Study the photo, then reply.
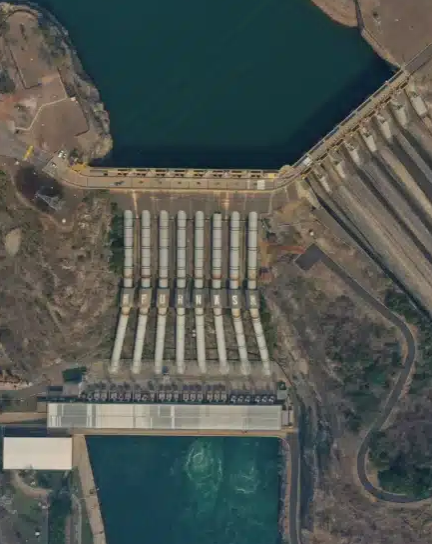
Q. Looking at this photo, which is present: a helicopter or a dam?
dam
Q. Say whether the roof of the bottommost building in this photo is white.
Yes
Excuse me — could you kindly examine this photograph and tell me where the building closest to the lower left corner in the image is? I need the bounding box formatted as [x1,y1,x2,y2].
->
[3,435,74,470]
